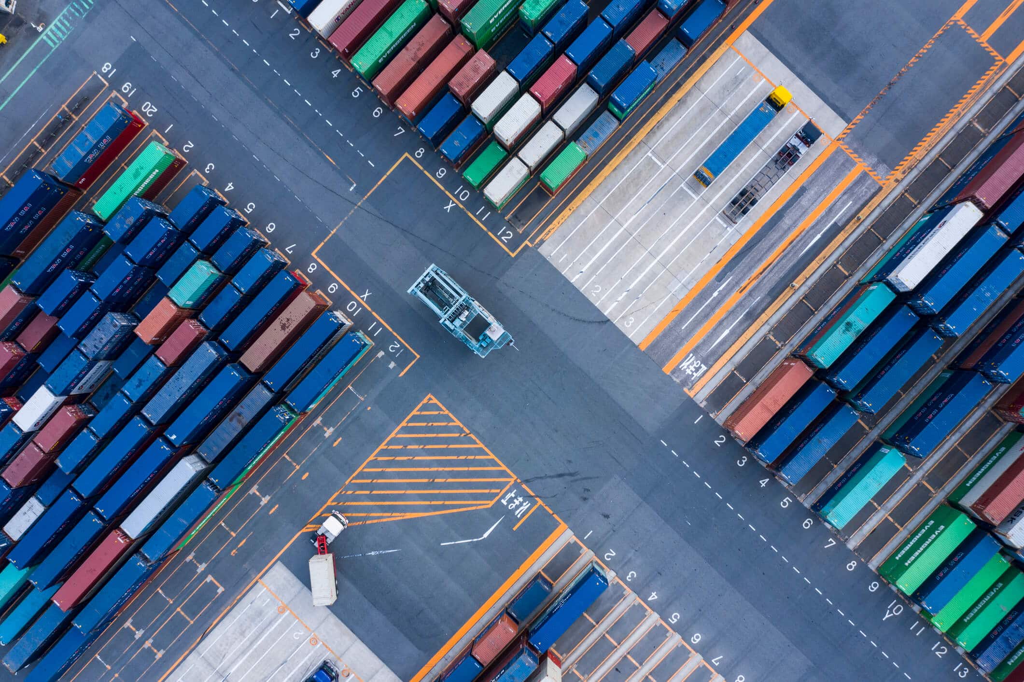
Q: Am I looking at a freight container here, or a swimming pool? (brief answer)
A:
freight container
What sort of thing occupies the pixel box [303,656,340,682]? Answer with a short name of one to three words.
truck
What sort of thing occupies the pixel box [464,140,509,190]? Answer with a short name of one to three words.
shipping container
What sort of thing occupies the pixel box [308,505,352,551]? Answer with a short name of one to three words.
truck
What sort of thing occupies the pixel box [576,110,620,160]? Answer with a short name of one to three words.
shipping container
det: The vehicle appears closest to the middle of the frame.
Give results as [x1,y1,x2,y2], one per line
[407,263,512,361]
